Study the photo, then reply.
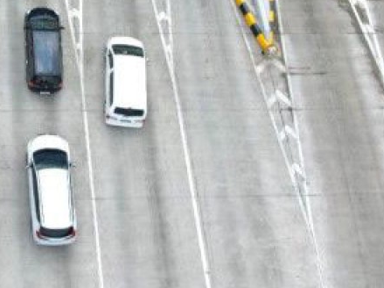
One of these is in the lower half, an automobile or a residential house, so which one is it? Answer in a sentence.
The one visible in the lower half is an automobile.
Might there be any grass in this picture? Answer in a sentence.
No, the picture contains no grass.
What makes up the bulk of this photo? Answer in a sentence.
For the most part, this view shows paved ground.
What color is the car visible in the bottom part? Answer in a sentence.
The car visible in the bottom part looks white in the image.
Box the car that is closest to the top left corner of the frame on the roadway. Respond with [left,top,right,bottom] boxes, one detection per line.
[19,8,66,96]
